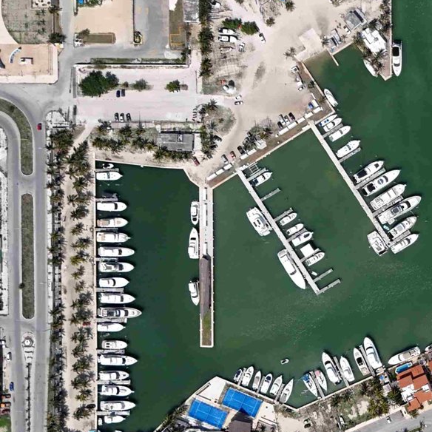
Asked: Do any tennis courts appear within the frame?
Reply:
Yes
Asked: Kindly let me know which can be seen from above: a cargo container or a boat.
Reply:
boat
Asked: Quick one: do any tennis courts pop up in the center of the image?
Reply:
No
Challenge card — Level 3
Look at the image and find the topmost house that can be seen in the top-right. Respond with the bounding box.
[344,7,368,31]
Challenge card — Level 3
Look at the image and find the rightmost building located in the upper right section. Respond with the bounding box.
[362,28,388,57]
